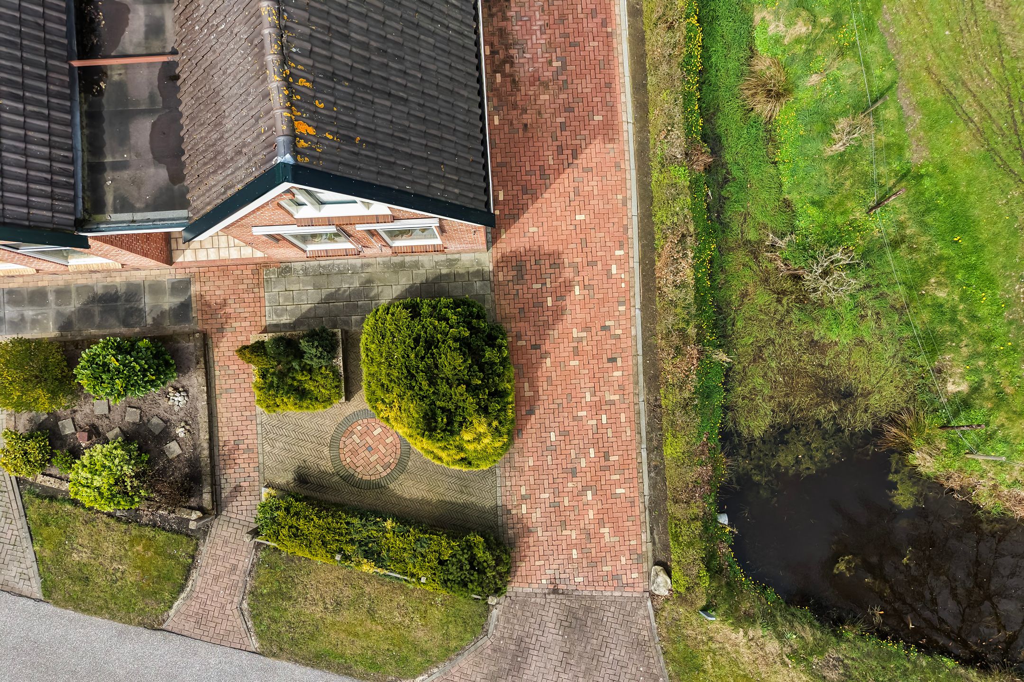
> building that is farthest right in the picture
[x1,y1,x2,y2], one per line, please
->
[172,0,504,262]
